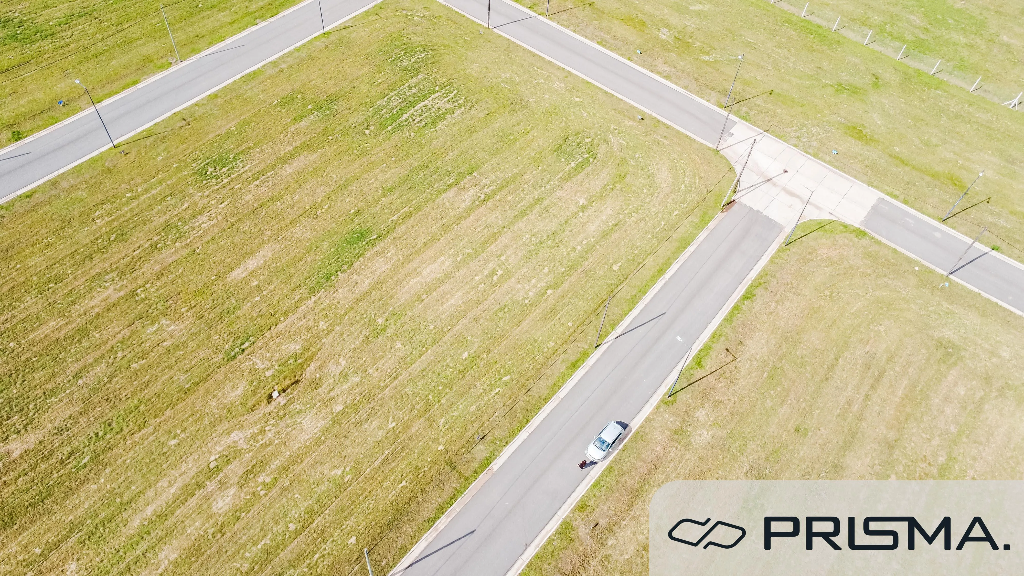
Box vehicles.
[585,422,624,465]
